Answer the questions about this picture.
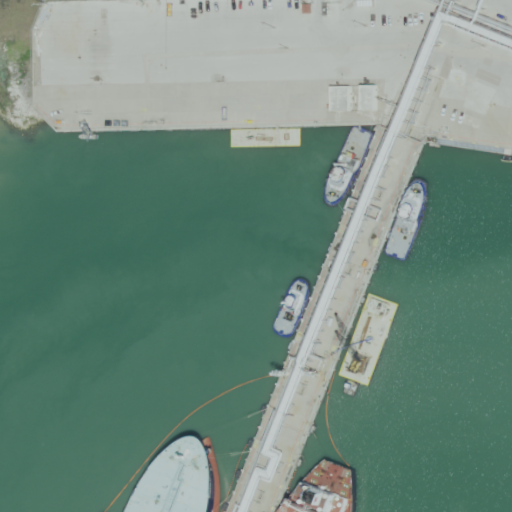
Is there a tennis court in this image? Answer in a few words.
No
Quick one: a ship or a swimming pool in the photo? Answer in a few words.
ship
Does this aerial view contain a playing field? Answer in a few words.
No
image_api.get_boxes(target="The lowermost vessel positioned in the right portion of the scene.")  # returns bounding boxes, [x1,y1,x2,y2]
[276,458,354,512]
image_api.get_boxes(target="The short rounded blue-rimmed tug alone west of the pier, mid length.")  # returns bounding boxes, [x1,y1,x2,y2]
[275,276,308,338]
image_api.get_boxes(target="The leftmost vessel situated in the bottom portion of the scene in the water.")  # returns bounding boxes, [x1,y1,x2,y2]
[124,430,219,512]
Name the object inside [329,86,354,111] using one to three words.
shed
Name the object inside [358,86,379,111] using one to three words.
shed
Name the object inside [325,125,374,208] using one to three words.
boat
